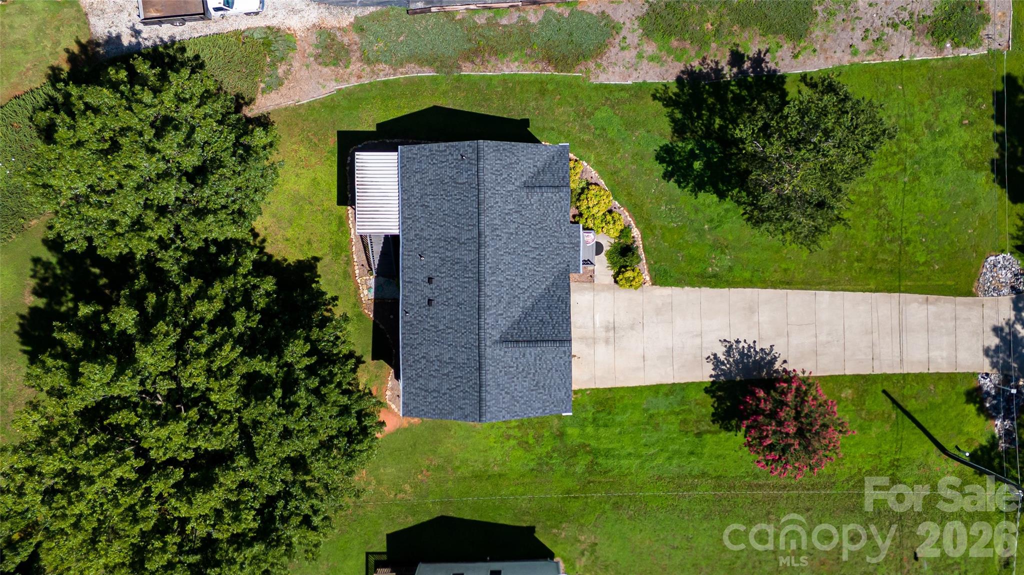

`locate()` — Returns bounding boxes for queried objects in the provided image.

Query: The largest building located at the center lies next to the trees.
[396,140,583,423]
